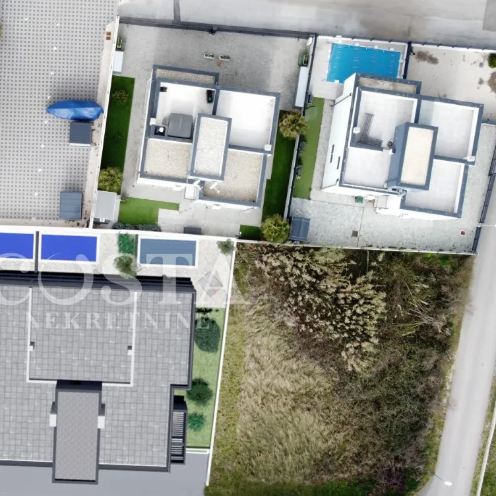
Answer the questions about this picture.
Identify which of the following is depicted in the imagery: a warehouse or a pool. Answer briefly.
pool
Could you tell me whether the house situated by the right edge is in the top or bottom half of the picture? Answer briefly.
top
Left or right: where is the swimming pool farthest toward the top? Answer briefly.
right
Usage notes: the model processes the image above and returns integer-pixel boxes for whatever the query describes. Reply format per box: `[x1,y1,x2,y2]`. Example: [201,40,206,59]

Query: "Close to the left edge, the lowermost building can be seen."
[0,270,196,485]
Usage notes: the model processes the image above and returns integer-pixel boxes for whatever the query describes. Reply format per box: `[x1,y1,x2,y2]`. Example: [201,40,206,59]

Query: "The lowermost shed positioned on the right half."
[286,217,310,240]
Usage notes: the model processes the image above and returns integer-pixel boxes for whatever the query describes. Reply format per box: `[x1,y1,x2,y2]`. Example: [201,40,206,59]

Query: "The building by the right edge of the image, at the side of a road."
[320,72,485,222]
